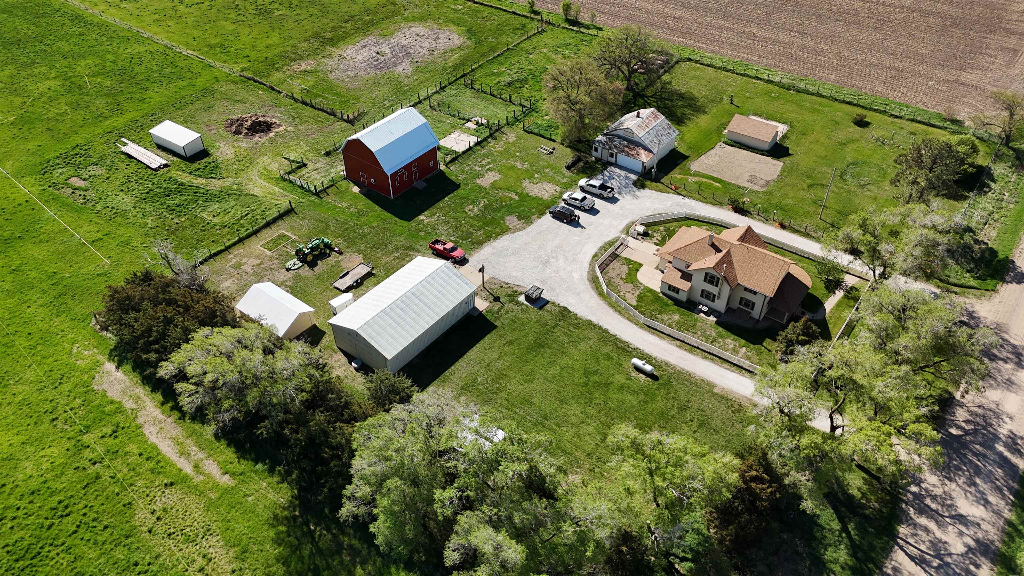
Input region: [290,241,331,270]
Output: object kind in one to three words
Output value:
work vehicle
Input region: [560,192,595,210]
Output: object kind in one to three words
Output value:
vehicle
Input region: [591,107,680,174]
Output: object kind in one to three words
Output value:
building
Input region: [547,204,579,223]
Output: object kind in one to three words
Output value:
car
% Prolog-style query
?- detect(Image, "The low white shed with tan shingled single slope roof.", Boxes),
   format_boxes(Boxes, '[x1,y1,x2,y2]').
[727,113,782,148]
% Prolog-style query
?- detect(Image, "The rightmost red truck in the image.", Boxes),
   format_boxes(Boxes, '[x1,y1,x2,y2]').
[428,239,466,262]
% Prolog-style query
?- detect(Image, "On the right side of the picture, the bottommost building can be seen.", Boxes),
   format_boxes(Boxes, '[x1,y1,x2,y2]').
[655,224,812,324]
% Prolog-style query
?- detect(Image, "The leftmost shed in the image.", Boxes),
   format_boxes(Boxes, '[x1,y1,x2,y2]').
[152,120,205,157]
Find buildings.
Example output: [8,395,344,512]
[727,113,782,148]
[591,107,680,174]
[236,284,316,347]
[655,224,812,324]
[337,106,442,198]
[152,120,205,157]
[329,259,478,368]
